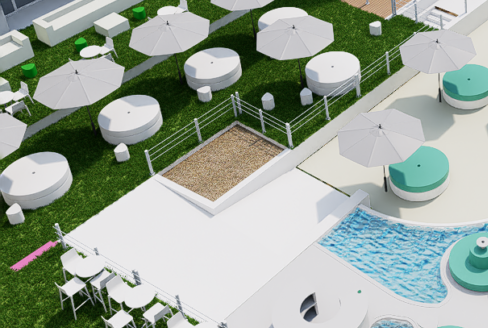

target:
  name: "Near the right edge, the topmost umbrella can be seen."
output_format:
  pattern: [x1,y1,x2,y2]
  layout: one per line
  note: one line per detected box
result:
[399,32,477,103]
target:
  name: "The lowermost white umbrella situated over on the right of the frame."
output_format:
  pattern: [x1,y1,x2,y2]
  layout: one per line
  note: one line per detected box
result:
[337,112,423,192]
